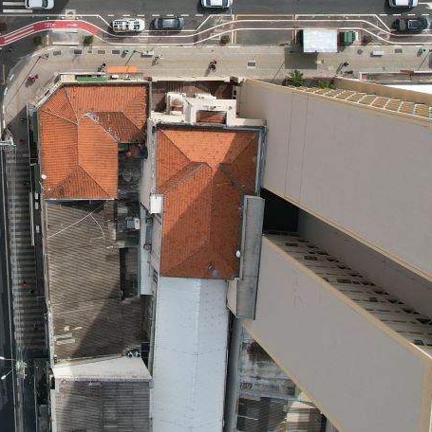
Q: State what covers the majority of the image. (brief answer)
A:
buildings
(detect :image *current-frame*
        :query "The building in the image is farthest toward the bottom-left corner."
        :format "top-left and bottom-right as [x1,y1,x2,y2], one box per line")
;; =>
[47,358,152,432]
